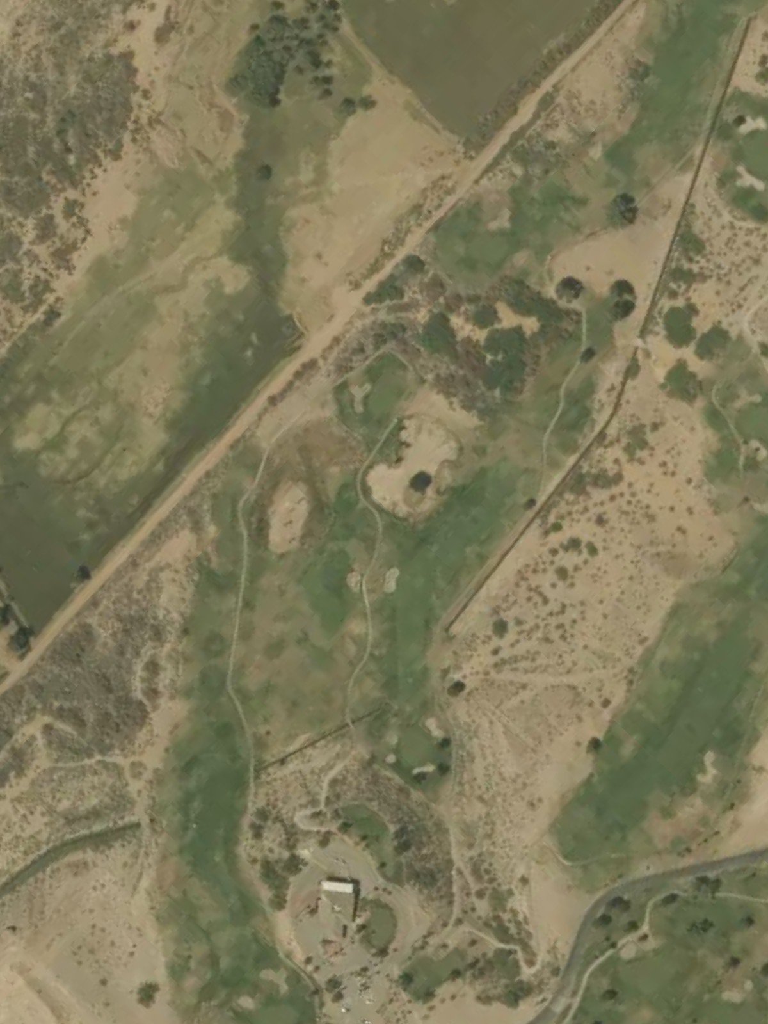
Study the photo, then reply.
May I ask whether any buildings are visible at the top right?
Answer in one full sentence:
No, the scene shows no building at the top right.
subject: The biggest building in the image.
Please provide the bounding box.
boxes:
[321,883,354,923]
